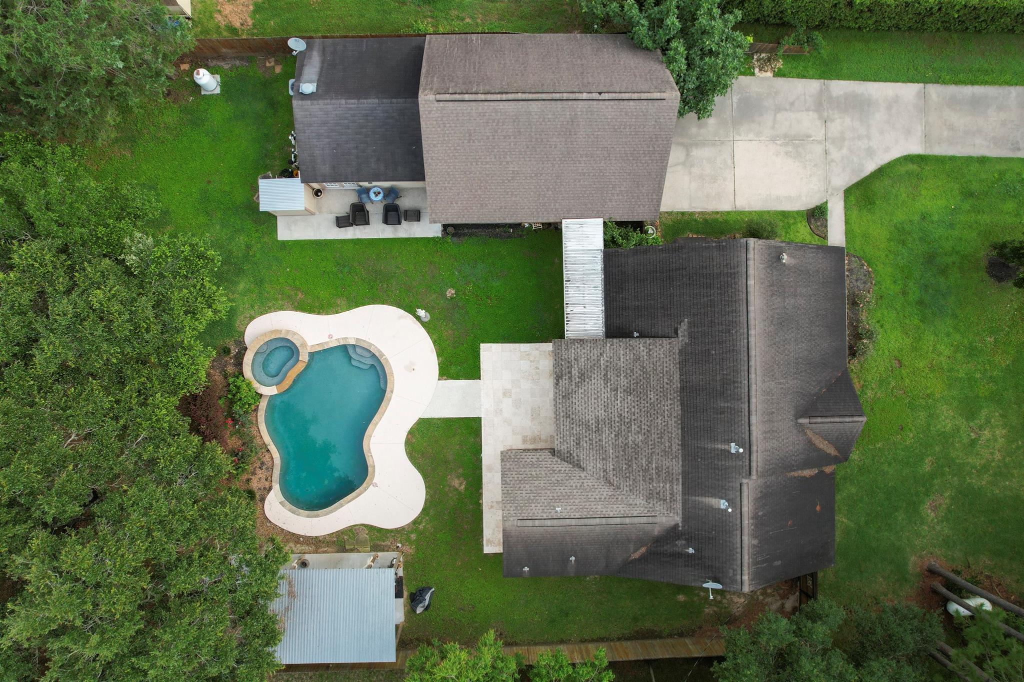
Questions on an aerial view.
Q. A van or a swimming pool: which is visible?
swimming pool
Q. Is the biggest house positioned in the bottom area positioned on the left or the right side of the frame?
right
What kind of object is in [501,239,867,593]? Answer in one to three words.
house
